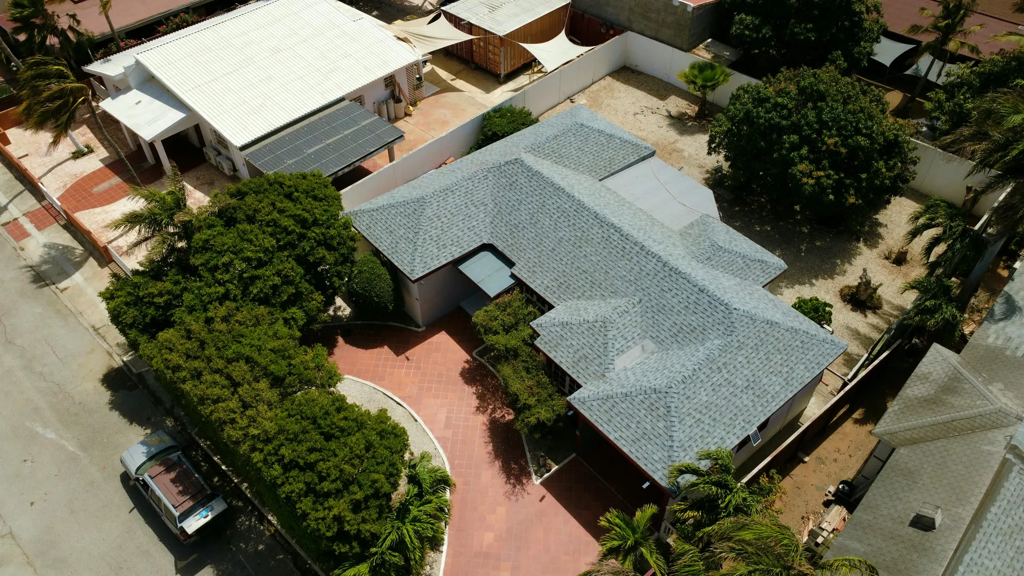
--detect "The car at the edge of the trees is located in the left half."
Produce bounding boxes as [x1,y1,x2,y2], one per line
[125,428,235,545]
